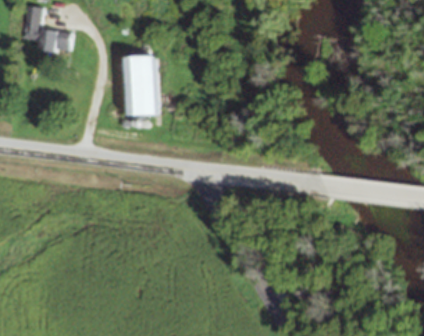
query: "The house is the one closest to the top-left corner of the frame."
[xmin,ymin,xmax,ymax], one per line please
[22,5,48,40]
